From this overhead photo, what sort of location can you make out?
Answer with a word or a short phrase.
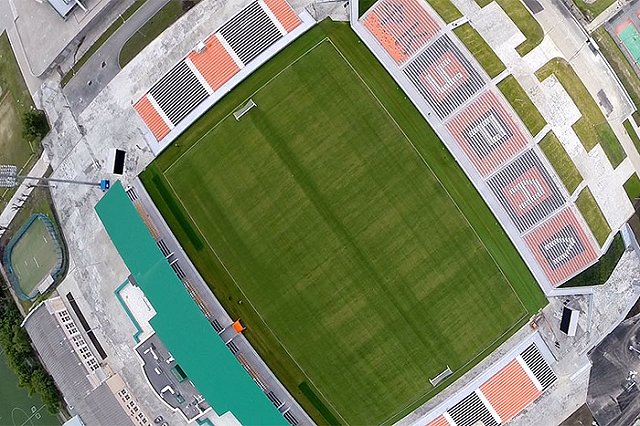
sports ground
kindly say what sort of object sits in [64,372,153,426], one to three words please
building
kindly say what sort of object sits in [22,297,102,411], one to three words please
building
